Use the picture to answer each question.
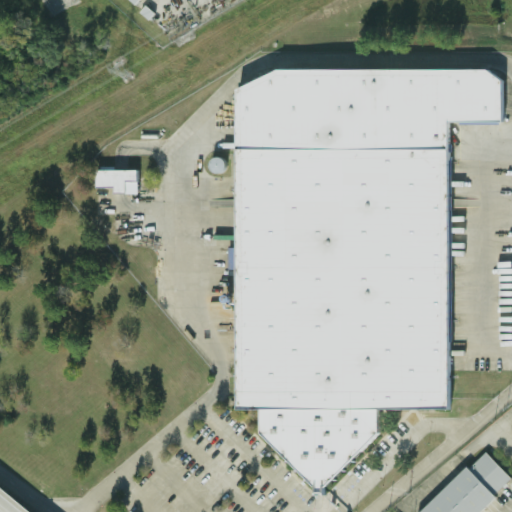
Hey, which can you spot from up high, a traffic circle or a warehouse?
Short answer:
warehouse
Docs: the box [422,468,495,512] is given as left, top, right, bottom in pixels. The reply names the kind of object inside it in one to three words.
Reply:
building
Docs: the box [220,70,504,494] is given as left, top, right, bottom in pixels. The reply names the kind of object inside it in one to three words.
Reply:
warehouse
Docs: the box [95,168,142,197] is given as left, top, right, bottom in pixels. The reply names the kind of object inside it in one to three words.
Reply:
building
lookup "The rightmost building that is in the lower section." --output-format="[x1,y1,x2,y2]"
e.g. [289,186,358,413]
[472,453,511,494]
